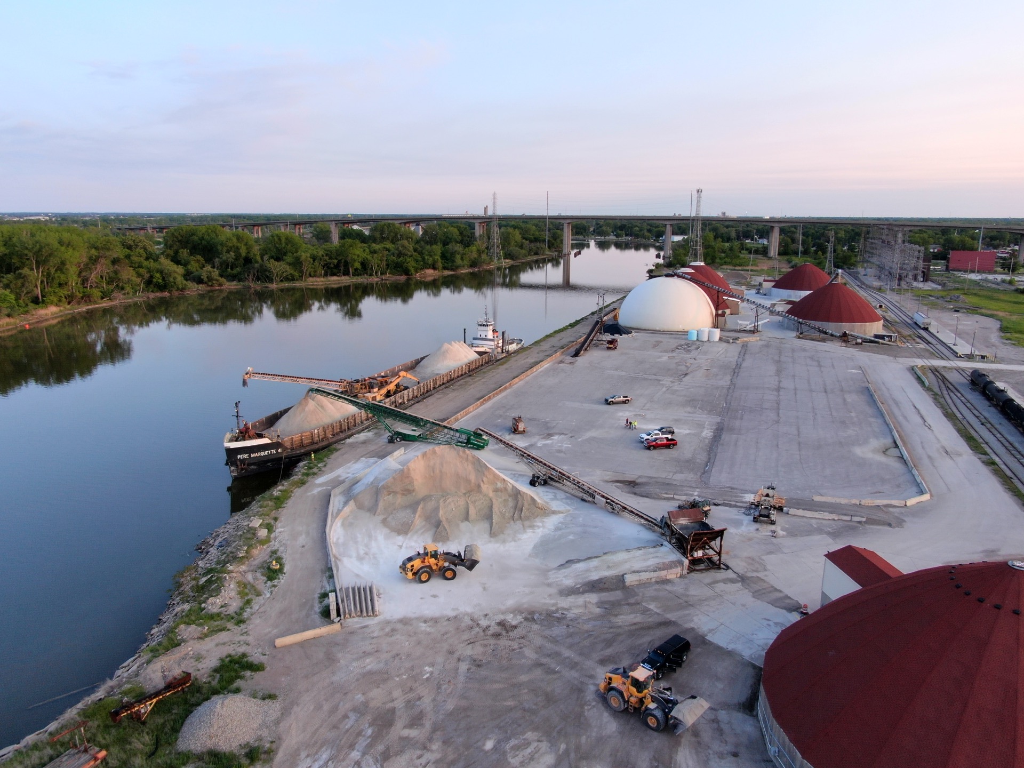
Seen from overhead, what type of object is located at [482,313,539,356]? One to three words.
boat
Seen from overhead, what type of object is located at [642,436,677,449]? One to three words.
vehicle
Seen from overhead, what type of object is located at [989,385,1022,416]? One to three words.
rail car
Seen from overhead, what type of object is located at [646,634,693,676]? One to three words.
truck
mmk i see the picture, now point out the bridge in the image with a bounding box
[96,215,1024,261]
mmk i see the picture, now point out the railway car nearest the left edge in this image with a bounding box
[917,315,933,332]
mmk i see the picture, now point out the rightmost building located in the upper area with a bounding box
[946,250,1000,272]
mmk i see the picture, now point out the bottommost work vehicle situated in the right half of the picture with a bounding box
[593,658,719,736]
